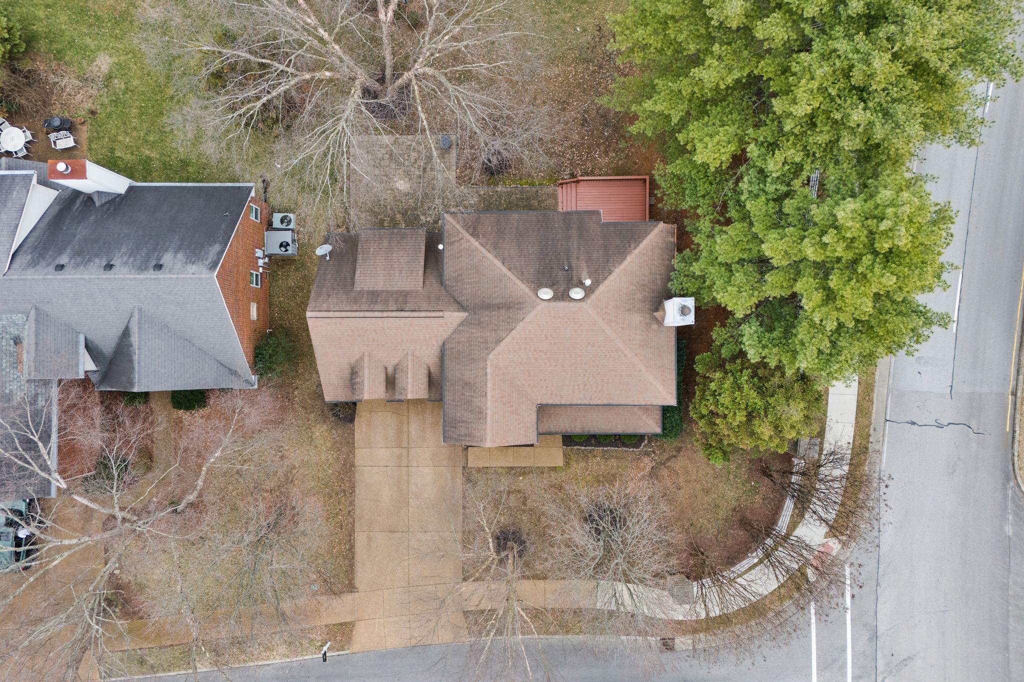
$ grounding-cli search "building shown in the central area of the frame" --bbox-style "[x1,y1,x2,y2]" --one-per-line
[306,209,696,449]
